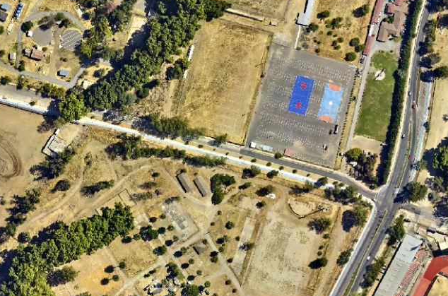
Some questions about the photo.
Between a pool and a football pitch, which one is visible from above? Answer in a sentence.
There is a football pitch in the scene.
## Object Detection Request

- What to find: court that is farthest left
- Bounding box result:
[288,75,314,113]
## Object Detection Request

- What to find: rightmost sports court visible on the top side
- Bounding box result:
[318,83,344,123]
